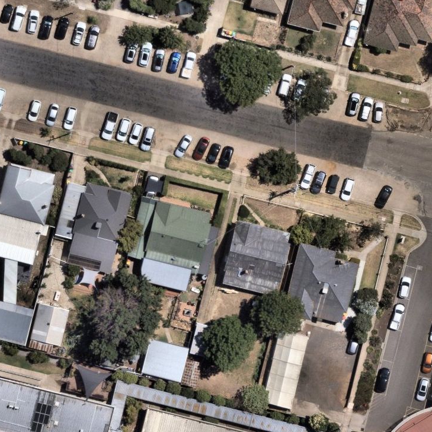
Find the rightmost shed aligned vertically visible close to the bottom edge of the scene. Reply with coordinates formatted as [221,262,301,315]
[268,334,311,412]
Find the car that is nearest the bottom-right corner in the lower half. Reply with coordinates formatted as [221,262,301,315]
[416,378,429,402]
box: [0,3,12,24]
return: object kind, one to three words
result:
vehicle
